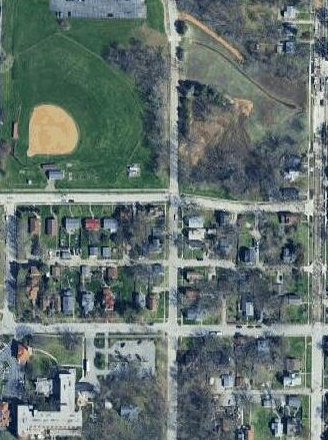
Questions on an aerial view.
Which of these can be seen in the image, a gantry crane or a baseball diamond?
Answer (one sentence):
The image shows a baseball diamond.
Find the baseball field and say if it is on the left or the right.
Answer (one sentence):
You can find the baseball field on the left side of the picture.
